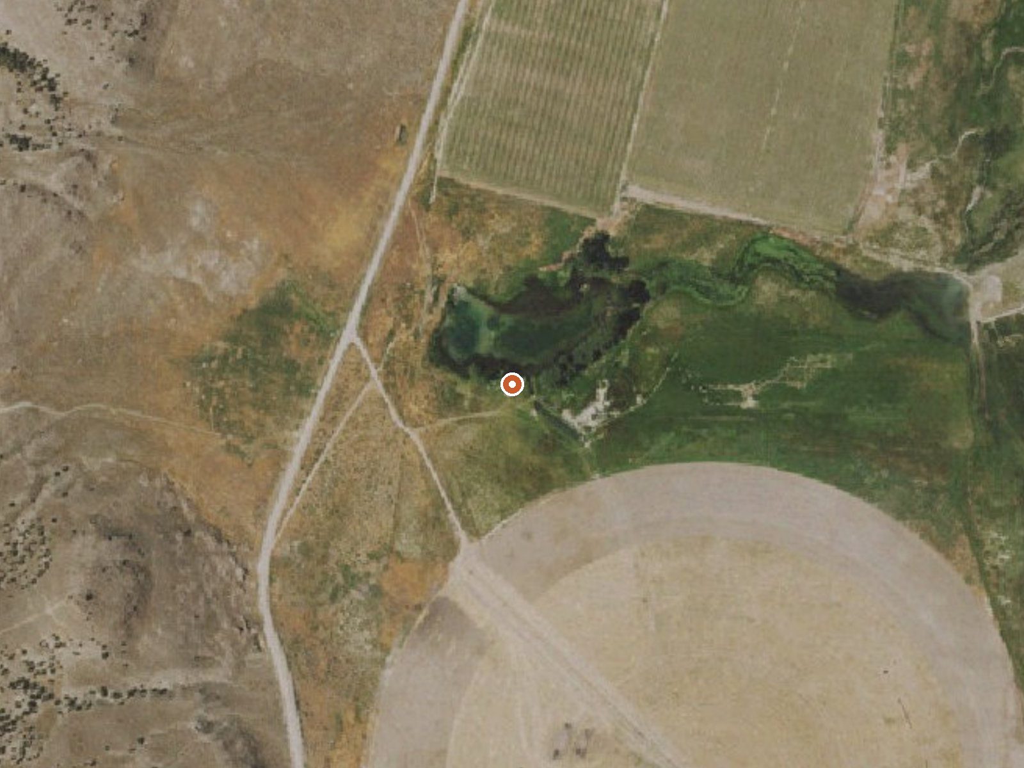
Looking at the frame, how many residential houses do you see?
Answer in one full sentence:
The picture shows no residential houses.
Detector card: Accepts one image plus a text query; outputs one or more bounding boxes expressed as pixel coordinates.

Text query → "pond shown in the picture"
[431,275,648,382]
